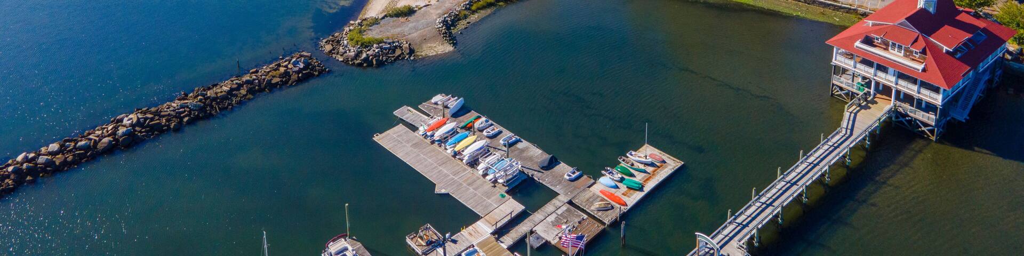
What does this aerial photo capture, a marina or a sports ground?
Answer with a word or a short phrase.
marina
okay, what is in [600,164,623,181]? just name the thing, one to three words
boat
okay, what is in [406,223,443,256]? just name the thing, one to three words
pier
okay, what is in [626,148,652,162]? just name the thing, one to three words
boat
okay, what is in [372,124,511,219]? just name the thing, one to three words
pier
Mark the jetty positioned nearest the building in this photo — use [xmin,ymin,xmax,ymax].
[684,84,904,256]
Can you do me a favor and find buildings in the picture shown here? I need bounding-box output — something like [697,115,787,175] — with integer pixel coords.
[825,0,1017,142]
